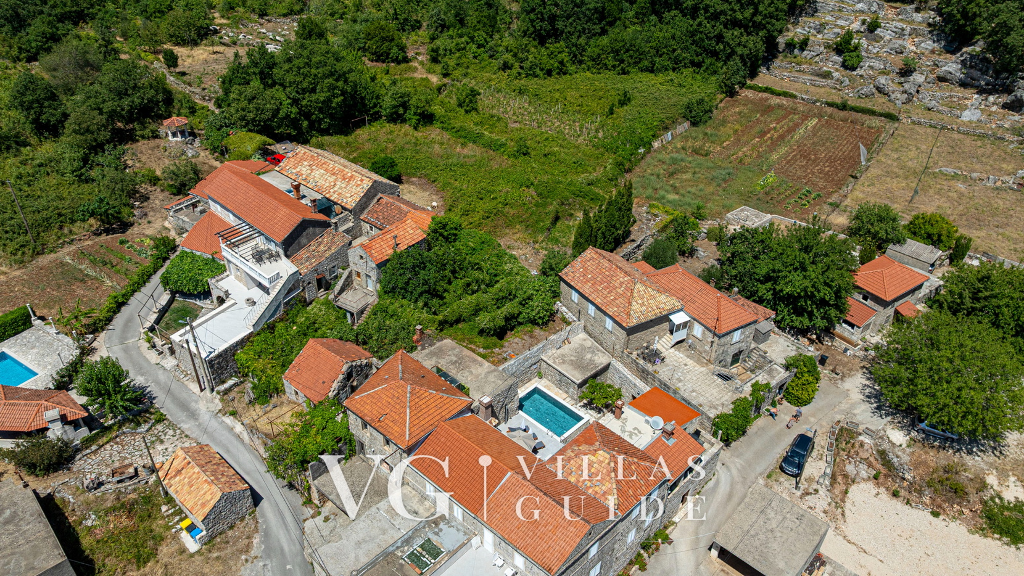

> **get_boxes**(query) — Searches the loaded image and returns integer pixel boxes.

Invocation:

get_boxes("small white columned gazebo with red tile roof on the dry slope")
[156,116,190,144]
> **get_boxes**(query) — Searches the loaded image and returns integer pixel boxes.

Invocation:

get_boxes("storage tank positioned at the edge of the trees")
[726,206,772,234]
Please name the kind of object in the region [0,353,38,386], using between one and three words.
swimming pool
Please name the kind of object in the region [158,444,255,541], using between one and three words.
barn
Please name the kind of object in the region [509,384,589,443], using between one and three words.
swimming pool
